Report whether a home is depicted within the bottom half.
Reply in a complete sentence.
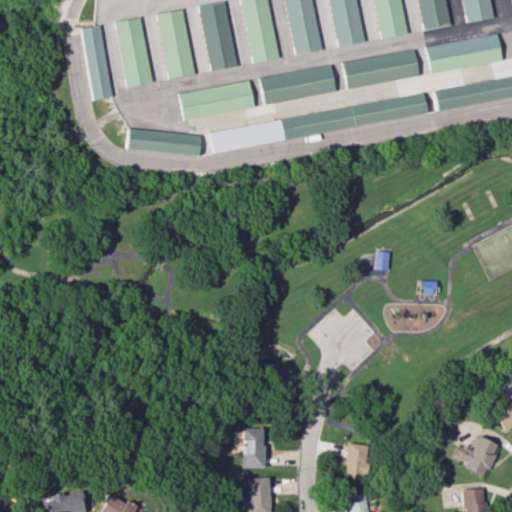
Yes, you'll find a home within the bottom half.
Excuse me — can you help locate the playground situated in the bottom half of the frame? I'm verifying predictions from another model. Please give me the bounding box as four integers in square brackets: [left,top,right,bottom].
[383,303,444,333]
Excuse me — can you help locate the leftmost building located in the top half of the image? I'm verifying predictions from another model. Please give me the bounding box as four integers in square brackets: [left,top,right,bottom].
[82,25,114,100]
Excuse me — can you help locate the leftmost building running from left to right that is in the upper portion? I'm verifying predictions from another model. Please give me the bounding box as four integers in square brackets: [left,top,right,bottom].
[128,129,202,155]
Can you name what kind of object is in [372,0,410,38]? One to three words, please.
building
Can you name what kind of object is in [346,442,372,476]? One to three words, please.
house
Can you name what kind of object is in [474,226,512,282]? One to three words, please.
sports court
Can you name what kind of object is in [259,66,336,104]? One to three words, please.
building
